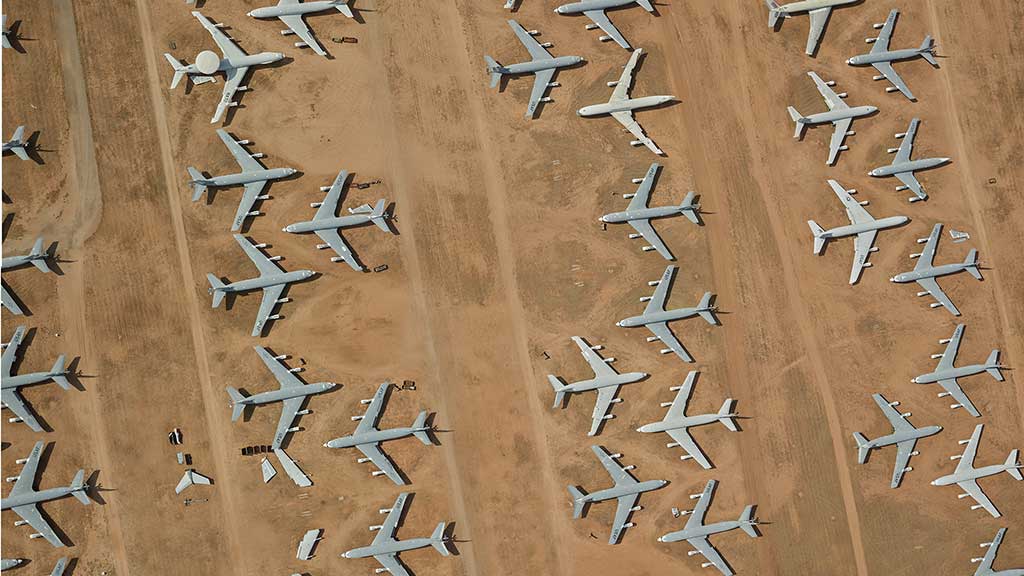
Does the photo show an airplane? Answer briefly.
Yes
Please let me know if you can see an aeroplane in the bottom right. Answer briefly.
Yes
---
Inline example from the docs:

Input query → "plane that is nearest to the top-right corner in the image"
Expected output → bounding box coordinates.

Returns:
[845,9,941,100]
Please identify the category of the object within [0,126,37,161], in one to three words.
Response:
airplane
